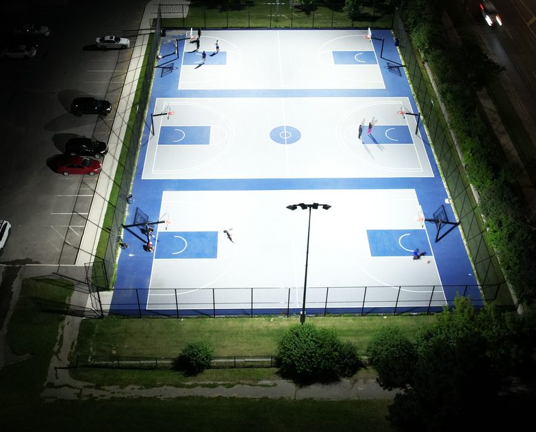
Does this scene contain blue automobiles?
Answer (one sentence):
No, the frame has no blue automobile in it.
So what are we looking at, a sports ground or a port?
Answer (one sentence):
This looks like a sports ground.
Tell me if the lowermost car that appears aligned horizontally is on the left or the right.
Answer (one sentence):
The lowermost car that appears aligned horizontally sits on the left side.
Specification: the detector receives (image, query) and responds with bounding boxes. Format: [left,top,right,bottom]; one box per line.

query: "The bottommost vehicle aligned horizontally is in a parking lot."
[55,155,102,175]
